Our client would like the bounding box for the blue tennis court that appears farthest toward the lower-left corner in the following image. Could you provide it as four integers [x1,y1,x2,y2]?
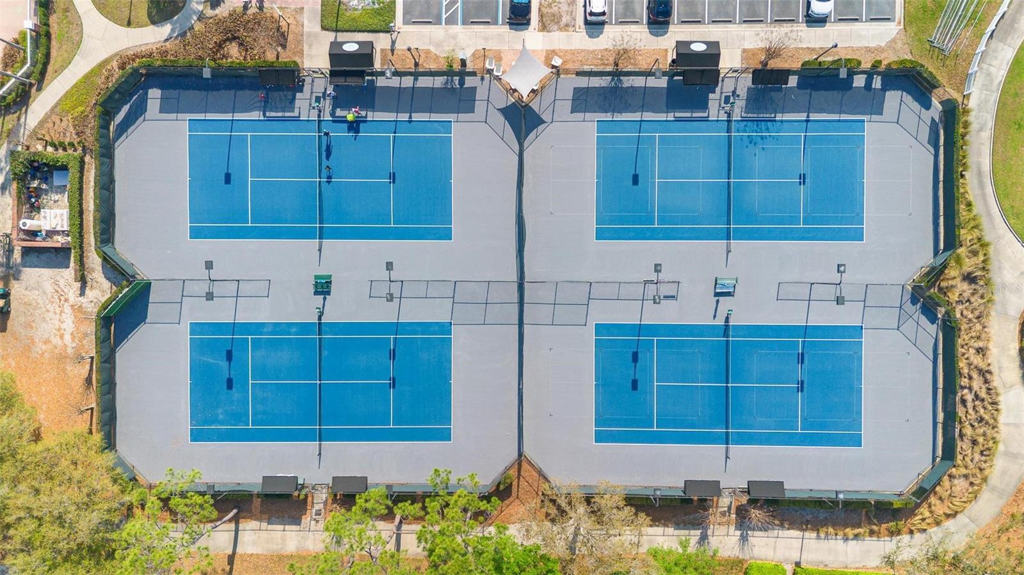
[189,321,452,443]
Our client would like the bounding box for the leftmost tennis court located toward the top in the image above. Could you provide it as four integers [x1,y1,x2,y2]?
[188,118,453,241]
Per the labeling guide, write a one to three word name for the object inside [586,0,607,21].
car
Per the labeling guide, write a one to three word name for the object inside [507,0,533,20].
car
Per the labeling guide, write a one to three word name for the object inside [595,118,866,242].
tennis court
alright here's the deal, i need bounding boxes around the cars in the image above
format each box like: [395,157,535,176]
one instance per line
[651,0,673,19]
[810,0,835,17]
[586,0,607,21]
[507,0,533,20]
